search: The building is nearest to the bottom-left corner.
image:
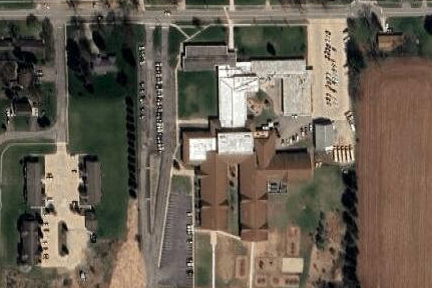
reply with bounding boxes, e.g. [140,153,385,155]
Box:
[19,219,39,266]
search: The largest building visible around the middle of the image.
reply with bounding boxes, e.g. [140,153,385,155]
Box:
[182,46,313,241]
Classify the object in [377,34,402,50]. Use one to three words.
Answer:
house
